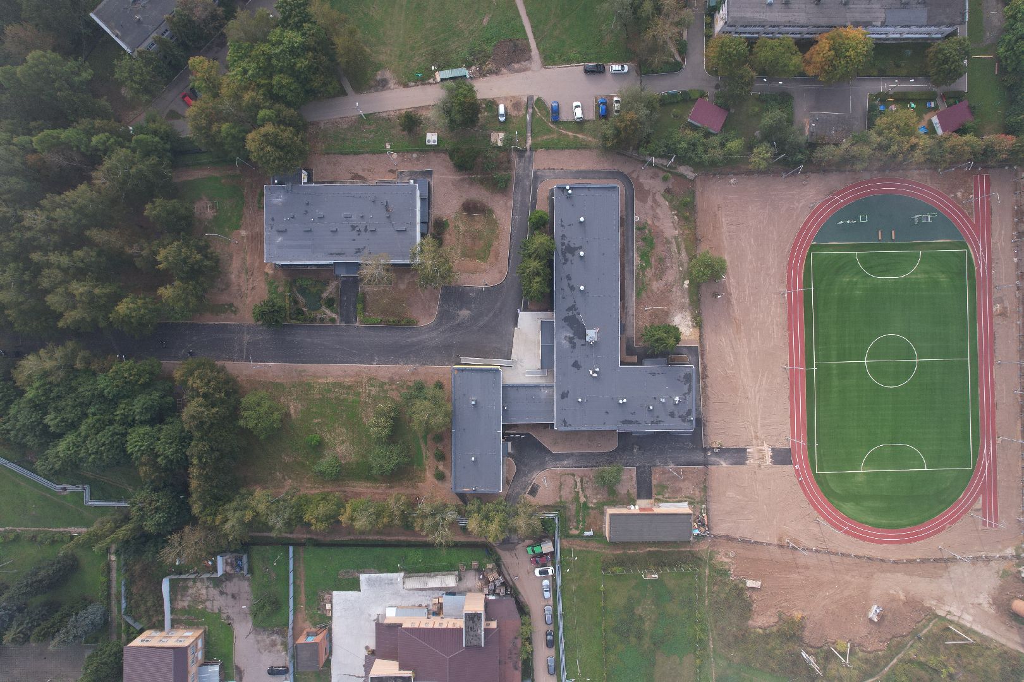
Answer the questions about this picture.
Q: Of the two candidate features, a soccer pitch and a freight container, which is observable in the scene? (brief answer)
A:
soccer pitch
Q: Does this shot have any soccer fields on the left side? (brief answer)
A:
No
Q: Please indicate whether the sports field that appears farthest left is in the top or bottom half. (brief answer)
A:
bottom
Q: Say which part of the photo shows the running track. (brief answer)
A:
right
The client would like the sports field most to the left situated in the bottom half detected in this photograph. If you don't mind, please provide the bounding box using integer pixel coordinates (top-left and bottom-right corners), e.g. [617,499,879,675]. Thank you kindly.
[601,568,703,682]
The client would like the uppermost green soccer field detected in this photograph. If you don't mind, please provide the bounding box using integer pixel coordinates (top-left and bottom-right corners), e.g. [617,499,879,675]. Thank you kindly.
[805,242,979,527]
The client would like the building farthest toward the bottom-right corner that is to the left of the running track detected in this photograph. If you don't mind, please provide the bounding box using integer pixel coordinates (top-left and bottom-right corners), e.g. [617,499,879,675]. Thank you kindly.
[608,502,701,542]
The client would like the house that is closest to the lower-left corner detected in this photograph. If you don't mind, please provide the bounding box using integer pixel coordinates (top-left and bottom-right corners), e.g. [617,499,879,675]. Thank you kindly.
[124,631,223,682]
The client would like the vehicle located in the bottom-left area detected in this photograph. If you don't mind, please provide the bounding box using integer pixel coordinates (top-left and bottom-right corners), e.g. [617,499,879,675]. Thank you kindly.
[267,666,288,678]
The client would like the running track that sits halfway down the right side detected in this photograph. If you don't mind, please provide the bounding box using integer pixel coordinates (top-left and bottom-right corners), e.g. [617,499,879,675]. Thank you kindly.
[787,172,1000,545]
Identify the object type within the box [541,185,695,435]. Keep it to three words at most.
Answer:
building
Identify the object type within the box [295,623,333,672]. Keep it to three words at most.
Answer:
house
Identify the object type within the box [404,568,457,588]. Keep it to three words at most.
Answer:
shed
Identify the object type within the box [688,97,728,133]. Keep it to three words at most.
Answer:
building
